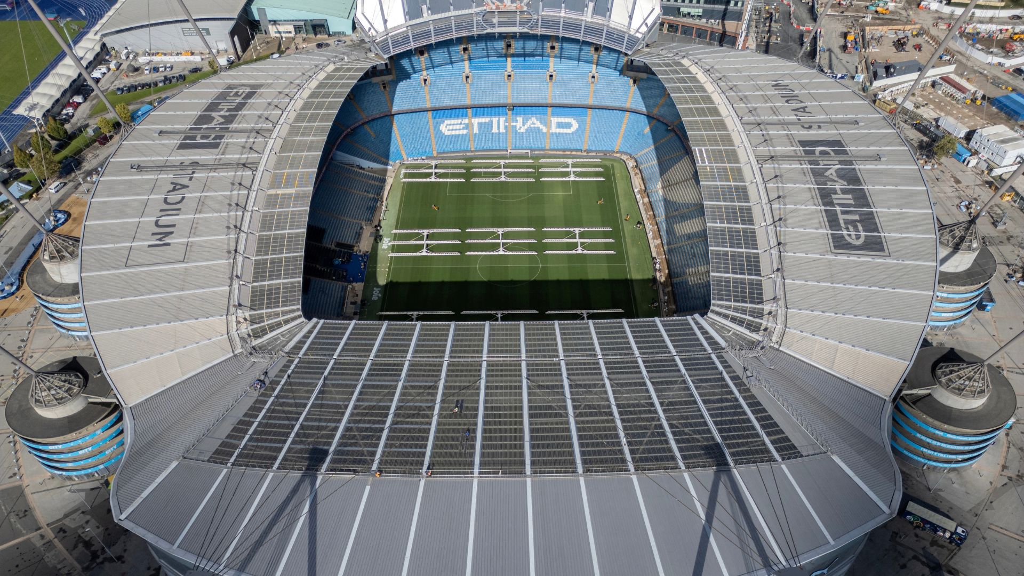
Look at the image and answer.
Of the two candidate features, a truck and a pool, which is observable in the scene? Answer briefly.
truck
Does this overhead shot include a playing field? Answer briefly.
Yes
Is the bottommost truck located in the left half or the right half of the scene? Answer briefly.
right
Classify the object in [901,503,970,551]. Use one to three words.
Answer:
truck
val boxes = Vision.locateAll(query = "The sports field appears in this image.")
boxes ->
[378,161,642,319]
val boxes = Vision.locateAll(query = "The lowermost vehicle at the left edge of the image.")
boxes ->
[45,178,65,192]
